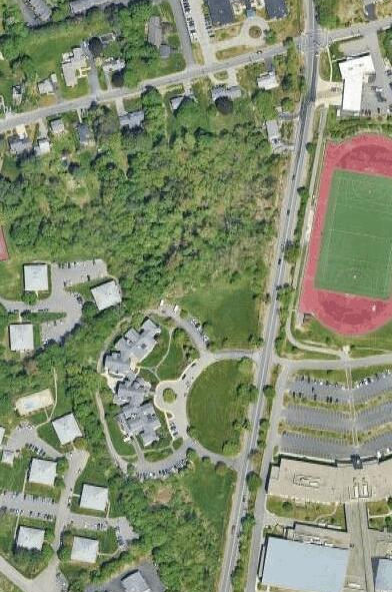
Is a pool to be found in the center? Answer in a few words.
No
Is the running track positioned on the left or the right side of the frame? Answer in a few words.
right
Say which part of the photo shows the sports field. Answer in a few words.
right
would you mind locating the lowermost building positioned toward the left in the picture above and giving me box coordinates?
[121,571,150,592]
